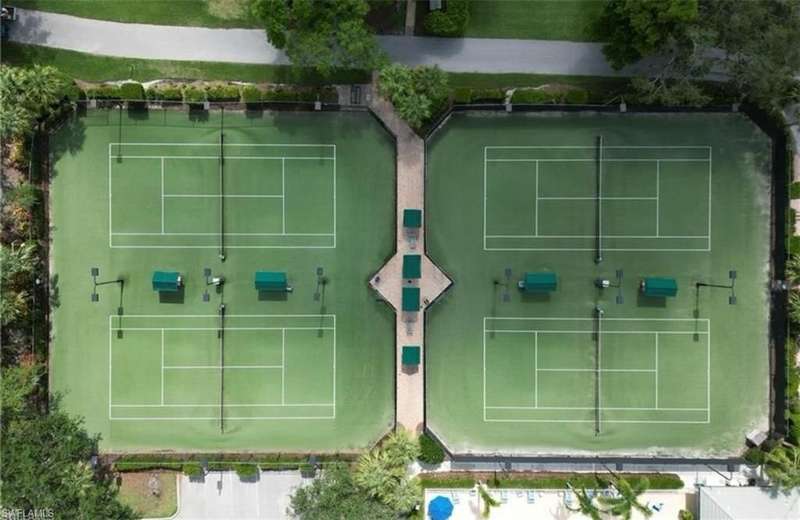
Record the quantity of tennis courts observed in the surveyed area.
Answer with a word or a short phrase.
4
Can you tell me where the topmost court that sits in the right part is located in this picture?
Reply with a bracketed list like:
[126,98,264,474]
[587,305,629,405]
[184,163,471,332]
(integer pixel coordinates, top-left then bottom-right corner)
[427,112,770,284]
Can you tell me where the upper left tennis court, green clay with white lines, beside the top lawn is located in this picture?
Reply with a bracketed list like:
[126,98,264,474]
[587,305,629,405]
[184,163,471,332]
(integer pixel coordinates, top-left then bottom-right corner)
[49,108,396,282]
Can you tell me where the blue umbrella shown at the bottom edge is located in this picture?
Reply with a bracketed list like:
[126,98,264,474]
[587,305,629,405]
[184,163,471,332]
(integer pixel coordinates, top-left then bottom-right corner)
[428,494,453,520]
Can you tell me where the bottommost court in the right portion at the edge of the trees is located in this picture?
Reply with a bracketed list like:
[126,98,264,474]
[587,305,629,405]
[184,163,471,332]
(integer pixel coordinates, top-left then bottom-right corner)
[427,284,770,457]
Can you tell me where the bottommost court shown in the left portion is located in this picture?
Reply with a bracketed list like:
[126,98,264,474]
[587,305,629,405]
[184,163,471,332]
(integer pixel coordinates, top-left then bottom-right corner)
[49,282,396,454]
